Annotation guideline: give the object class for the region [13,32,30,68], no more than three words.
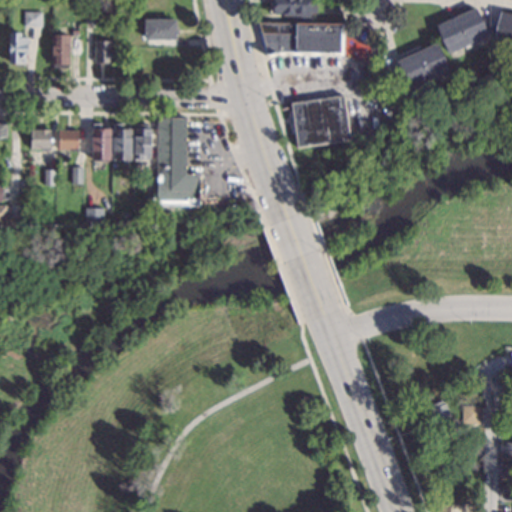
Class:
house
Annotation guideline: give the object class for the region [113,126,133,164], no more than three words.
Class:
house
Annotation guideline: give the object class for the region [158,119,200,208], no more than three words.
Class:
building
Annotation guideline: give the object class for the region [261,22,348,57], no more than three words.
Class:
building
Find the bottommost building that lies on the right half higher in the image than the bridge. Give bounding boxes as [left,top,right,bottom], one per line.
[292,97,350,152]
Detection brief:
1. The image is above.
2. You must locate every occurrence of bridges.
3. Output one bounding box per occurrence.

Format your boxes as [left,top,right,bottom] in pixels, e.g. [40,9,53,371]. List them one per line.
[262,212,351,326]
